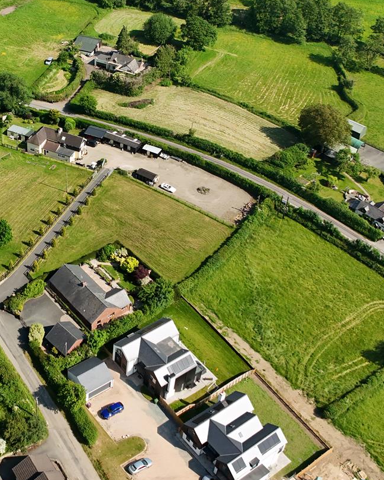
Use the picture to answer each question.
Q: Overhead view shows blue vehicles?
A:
Yes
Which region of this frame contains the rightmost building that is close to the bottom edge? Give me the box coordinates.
[183,384,288,480]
